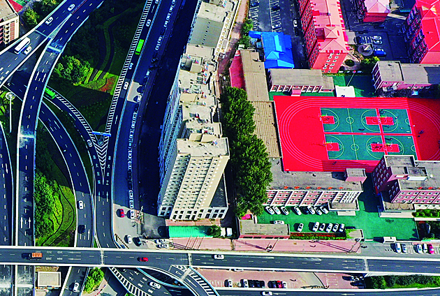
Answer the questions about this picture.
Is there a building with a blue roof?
Yes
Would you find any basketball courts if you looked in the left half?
No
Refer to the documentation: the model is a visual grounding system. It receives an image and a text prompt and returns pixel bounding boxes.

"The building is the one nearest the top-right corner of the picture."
[405,0,440,64]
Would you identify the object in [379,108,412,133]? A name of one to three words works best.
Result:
basketball court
